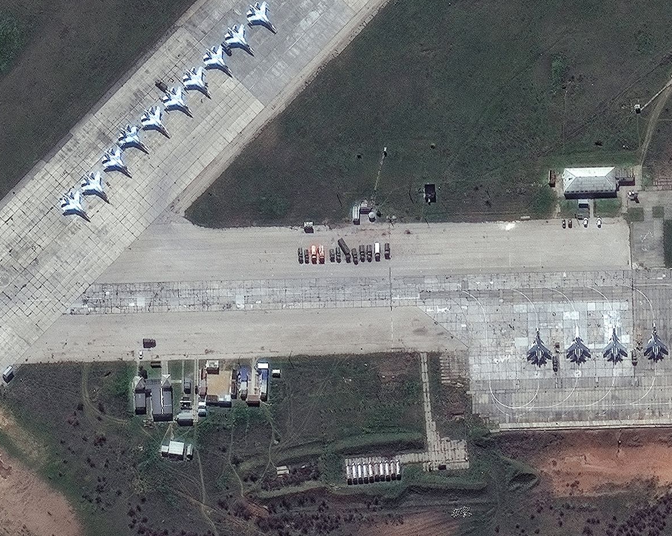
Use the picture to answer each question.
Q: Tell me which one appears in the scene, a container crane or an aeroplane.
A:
aeroplane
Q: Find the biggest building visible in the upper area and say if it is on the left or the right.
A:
right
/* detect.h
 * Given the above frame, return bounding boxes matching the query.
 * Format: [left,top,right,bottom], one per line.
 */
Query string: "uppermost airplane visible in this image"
[246,1,276,32]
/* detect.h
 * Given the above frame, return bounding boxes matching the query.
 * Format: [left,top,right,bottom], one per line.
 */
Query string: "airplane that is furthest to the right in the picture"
[642,321,669,361]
